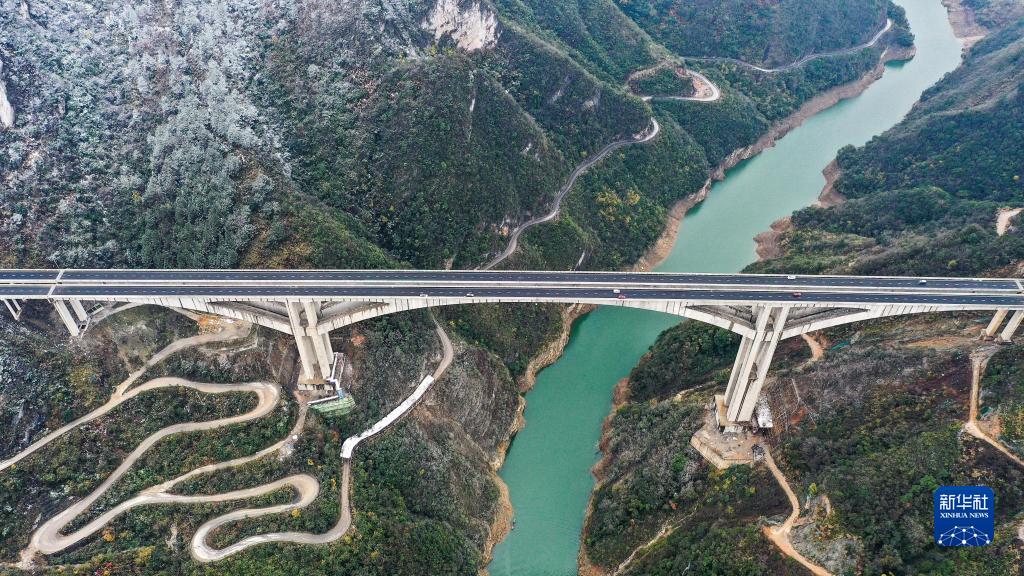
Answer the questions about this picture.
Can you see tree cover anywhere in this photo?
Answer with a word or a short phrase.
Yes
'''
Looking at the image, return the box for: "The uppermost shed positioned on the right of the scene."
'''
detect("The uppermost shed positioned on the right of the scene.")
[756,394,773,433]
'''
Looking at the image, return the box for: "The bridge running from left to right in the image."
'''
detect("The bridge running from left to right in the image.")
[0,269,1024,433]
